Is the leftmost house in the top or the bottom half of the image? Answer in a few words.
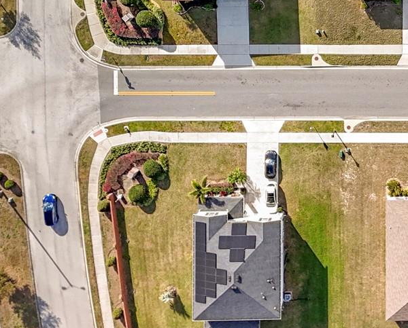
bottom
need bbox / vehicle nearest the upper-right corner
[264,146,278,176]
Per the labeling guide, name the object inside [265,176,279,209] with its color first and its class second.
white car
